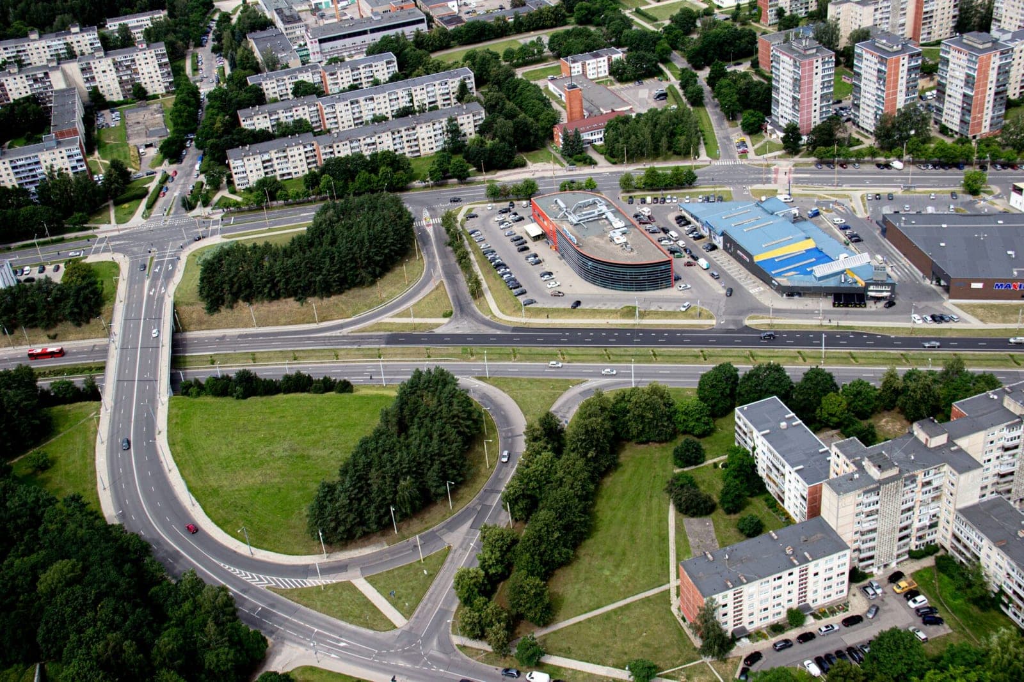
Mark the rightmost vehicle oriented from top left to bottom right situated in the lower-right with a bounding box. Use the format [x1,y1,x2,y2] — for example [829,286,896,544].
[909,623,928,640]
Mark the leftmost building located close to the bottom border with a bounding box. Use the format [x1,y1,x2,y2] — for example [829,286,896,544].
[676,515,852,652]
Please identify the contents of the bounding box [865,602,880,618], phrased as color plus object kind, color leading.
gray car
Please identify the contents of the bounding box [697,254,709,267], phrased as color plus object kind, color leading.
white vehicle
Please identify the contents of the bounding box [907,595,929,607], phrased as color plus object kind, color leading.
white vehicle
